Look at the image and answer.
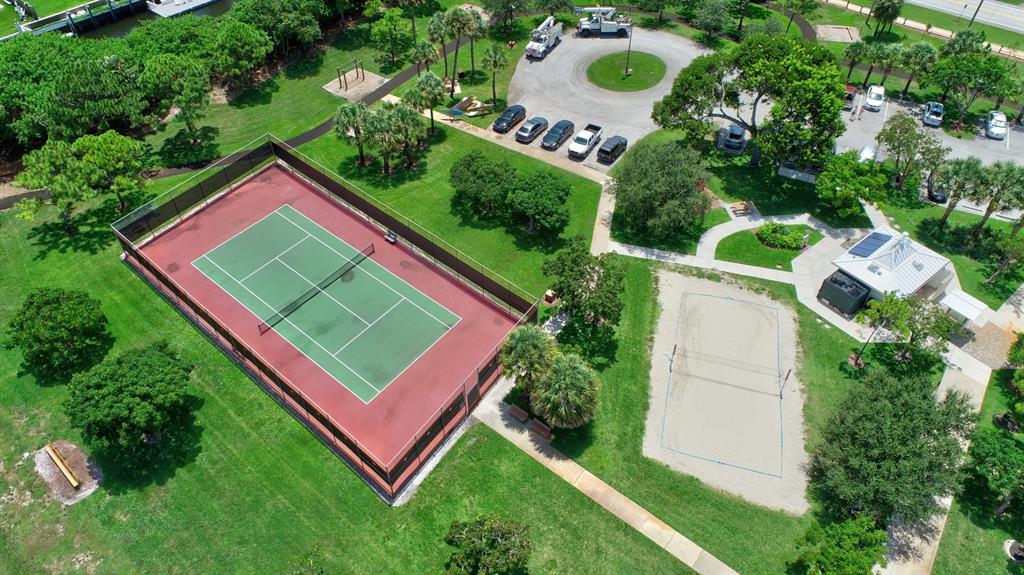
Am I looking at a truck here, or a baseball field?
truck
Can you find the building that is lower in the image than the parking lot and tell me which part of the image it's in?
right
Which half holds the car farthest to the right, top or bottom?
top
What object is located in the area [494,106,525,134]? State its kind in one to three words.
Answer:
car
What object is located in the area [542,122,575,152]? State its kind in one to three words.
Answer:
car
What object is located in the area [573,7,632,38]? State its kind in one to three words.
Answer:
truck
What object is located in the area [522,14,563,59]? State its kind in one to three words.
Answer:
truck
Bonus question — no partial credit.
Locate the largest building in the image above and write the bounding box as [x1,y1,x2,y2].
[832,225,950,308]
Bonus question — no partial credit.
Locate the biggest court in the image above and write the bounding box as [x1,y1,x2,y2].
[122,157,541,501]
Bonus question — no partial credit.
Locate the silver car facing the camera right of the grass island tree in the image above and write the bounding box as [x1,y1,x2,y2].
[985,111,1009,140]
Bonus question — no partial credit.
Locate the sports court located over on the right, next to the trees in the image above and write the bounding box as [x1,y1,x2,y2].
[643,269,812,514]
